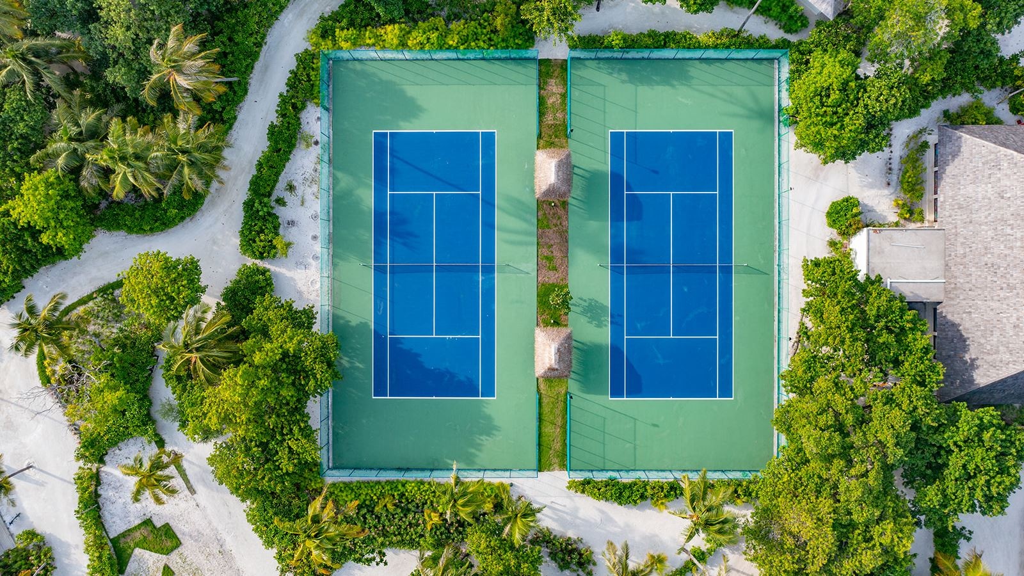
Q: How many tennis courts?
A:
2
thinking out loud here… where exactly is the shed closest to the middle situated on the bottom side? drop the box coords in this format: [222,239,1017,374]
[534,326,573,379]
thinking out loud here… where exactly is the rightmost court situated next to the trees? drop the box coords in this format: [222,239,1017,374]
[568,58,778,471]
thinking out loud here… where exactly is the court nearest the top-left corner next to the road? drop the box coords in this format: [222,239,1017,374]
[328,60,538,471]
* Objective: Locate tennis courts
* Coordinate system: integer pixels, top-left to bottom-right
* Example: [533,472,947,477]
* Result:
[328,60,538,471]
[568,58,778,471]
